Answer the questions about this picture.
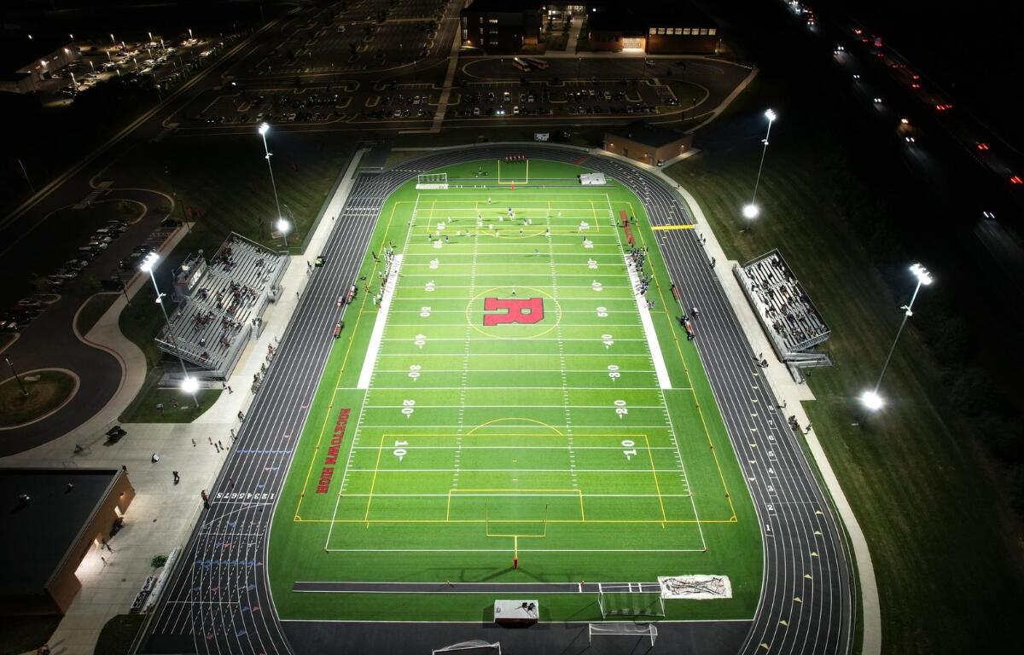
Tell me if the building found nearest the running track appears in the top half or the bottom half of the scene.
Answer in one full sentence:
Seen from above, the building found nearest the running track lies in the top half of the view.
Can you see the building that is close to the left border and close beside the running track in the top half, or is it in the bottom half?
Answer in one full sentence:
The bottom half of the photo is where the building that is close to the left border and close beside the running track is.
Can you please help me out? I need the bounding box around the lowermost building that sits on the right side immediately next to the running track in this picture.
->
[605,121,697,166]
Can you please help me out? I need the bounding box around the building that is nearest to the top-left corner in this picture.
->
[0,34,93,96]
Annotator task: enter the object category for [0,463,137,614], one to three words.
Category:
building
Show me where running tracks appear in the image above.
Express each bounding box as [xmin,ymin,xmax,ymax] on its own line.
[135,147,849,655]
